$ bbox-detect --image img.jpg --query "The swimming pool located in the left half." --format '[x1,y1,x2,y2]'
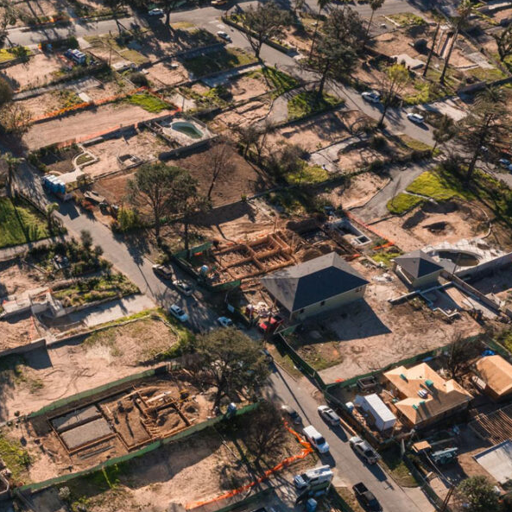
[161,115,210,142]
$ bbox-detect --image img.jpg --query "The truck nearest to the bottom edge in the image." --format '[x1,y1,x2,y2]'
[346,478,389,512]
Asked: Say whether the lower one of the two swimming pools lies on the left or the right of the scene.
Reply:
right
